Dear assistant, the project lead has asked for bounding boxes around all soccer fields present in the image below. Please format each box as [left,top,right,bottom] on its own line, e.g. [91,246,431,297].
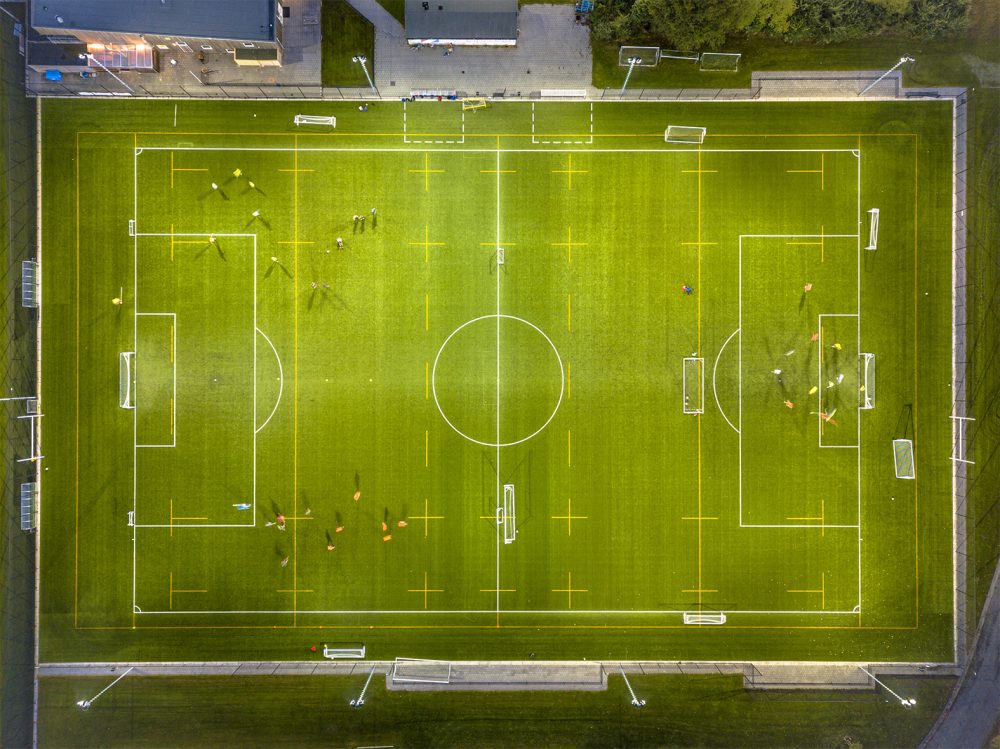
[39,99,953,662]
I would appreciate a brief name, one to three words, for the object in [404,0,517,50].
building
